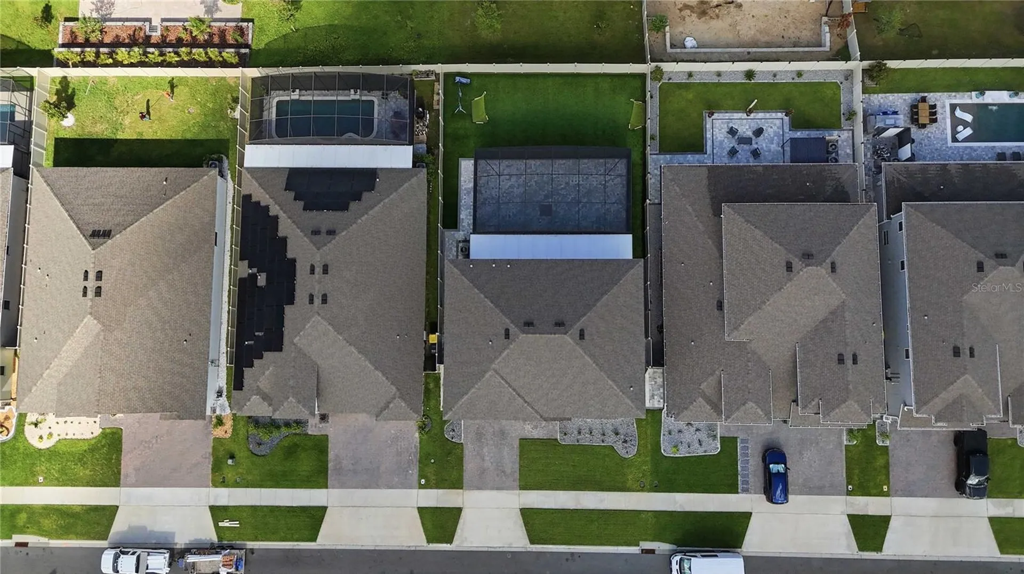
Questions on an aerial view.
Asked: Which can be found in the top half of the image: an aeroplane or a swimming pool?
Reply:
swimming pool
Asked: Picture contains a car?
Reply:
Yes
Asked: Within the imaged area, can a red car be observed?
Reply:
No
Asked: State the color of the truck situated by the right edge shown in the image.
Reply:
black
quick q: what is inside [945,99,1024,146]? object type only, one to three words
swimming pool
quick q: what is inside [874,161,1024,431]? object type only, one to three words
house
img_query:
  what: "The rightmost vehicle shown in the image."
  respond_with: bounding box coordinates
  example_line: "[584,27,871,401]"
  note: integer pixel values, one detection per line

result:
[955,428,991,500]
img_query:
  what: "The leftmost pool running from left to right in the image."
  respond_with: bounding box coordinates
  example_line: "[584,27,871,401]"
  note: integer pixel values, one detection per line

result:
[273,96,378,140]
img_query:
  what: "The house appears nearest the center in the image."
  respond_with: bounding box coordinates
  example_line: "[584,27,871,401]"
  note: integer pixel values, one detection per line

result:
[443,234,646,422]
